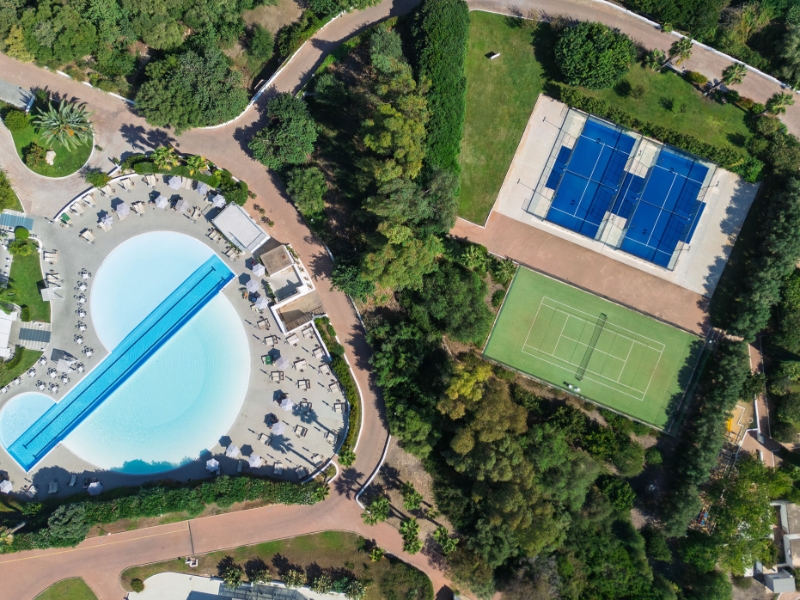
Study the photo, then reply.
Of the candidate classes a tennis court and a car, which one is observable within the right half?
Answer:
tennis court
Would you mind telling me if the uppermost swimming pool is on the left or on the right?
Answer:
left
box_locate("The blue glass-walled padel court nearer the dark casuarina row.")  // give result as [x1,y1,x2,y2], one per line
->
[620,141,723,269]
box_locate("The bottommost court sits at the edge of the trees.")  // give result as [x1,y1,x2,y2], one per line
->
[484,264,718,440]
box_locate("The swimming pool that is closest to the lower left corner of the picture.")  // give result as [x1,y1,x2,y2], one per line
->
[0,230,252,476]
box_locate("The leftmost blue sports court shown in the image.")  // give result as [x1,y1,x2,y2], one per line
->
[545,111,646,240]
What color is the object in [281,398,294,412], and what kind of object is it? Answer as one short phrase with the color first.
white umbrella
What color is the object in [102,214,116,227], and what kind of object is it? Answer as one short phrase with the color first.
white umbrella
